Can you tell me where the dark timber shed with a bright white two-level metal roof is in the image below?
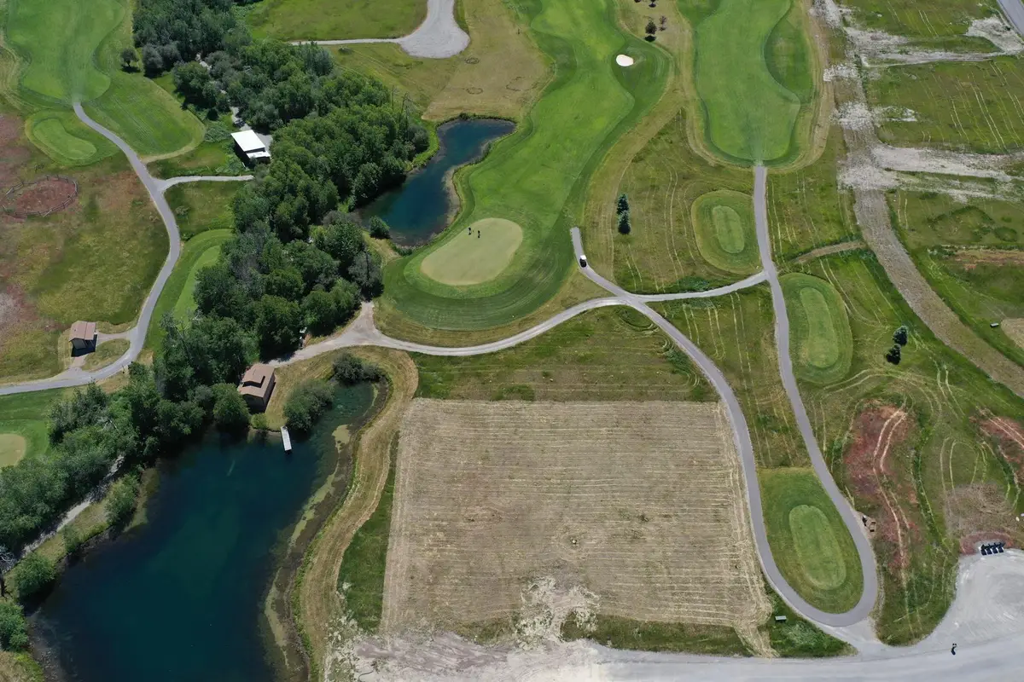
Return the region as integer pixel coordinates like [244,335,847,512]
[233,129,266,171]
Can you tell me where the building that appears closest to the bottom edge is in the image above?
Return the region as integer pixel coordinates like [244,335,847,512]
[240,364,280,412]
